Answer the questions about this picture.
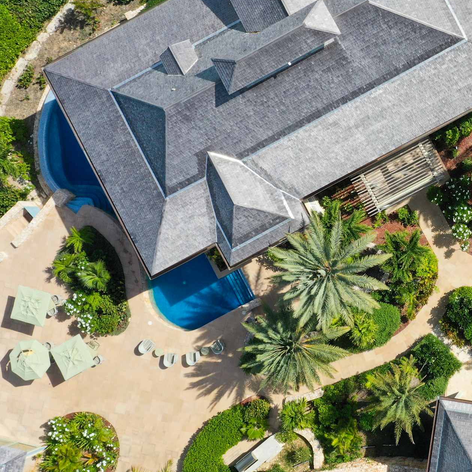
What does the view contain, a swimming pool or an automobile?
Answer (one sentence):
It is a swimming pool that can be seen here.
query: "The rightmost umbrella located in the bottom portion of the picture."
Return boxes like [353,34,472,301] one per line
[47,334,97,382]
